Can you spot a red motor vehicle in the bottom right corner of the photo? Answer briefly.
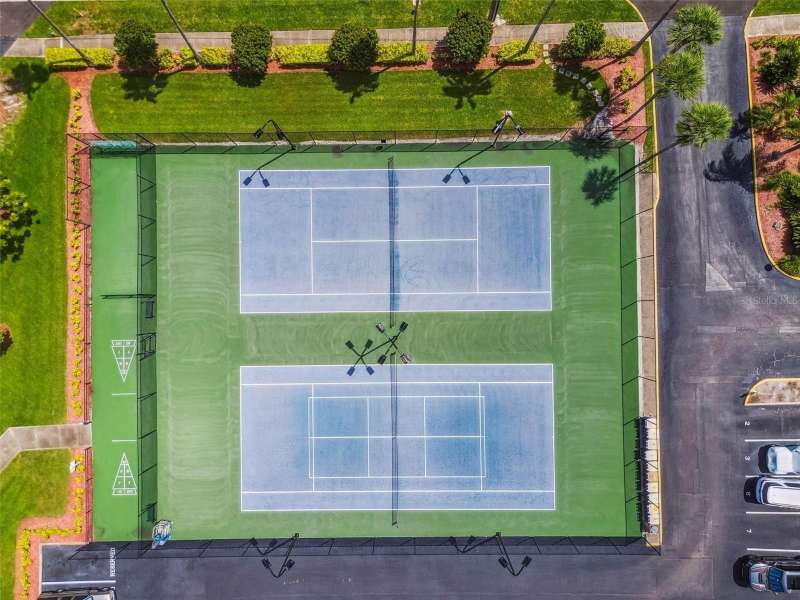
No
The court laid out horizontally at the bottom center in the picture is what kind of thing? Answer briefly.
tennis court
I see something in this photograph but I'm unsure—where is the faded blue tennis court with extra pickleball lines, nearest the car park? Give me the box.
[240,364,555,512]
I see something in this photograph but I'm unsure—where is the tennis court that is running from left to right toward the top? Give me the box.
[239,166,552,313]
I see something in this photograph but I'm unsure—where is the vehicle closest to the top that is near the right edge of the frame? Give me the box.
[764,445,800,477]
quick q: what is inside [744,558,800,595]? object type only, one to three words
car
